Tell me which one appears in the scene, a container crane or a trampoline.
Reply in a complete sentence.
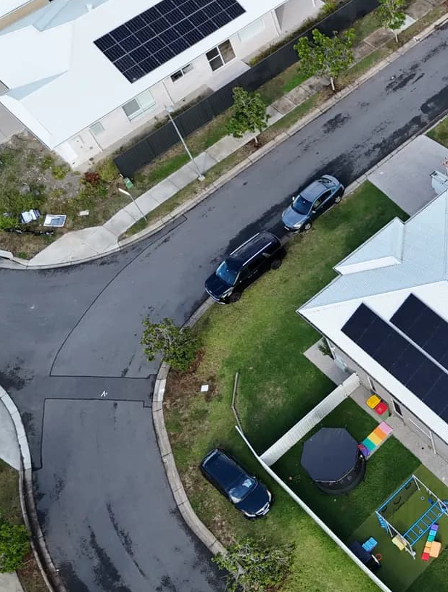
It is a trampoline that can be seen here.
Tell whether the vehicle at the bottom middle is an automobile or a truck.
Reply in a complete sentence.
In the photo, the vehicle at the bottom middle shows up as an automobile.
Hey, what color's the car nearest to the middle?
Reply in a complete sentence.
The color of the car nearest to the middle is black.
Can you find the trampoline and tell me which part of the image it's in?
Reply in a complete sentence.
The trampoline sits in the bottom right section of the image.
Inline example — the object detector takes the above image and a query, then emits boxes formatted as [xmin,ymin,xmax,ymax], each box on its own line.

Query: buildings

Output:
[0,0,293,169]
[293,185,448,461]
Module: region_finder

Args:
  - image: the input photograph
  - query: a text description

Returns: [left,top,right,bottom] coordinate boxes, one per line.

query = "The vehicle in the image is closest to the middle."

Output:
[206,228,289,302]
